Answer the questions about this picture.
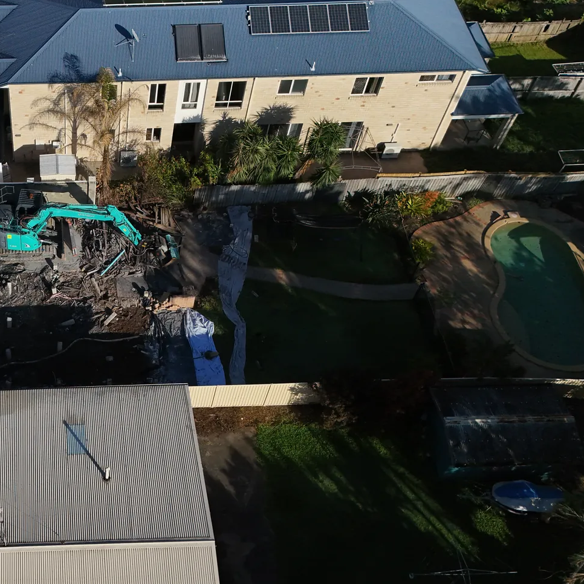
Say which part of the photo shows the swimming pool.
right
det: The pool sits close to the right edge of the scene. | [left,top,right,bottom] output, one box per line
[485,206,584,371]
